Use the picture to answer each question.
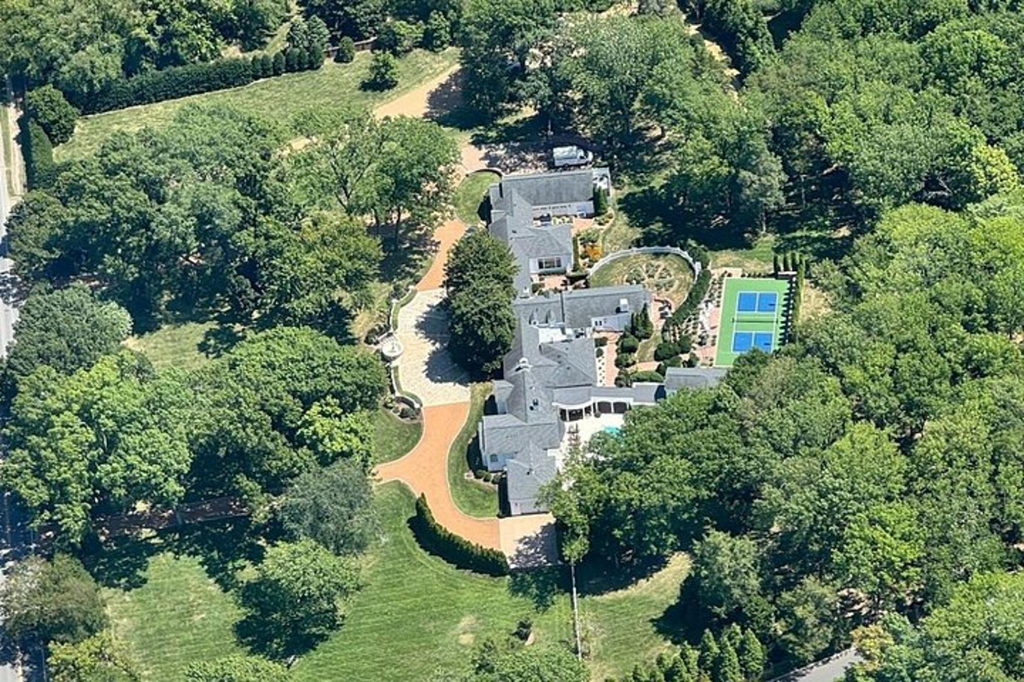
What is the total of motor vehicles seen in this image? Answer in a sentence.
The picture shows 1 motor vehicle.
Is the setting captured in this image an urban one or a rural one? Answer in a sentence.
This place is rural.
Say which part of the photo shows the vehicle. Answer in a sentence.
Look in the top portion of the view to spot the vehicle.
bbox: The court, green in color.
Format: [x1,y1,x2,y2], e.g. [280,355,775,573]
[714,278,797,368]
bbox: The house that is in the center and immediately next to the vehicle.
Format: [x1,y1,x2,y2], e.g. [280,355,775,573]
[478,169,650,513]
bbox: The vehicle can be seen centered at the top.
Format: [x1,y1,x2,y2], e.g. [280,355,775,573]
[552,147,593,172]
